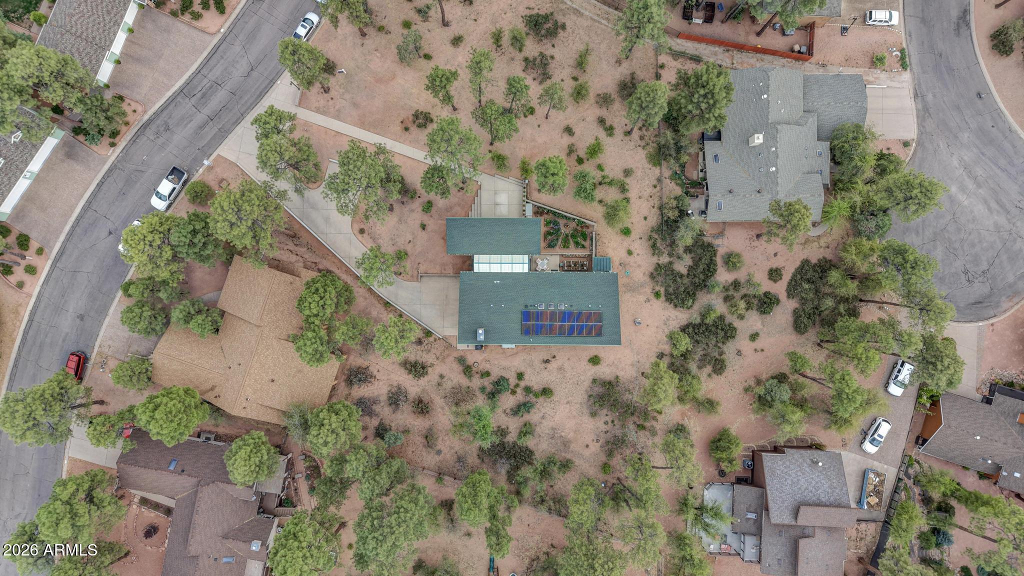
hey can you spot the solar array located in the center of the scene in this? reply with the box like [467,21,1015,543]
[522,312,602,335]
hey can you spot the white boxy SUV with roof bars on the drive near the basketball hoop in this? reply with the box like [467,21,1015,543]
[860,9,901,30]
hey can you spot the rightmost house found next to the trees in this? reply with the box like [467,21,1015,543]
[919,391,1024,492]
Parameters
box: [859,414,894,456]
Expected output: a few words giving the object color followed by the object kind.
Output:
white car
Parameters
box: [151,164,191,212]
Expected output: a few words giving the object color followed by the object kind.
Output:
white truck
